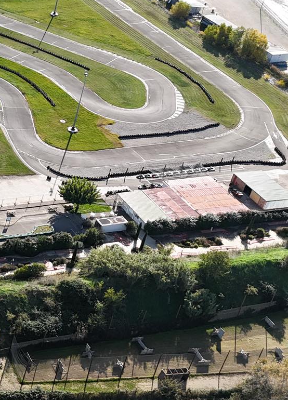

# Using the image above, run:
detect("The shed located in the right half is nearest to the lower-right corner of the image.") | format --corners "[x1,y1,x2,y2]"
[157,368,190,385]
